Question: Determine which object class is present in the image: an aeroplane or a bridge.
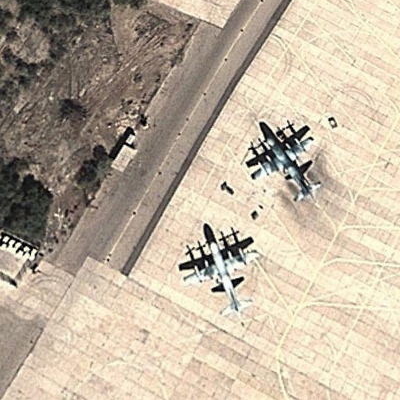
aeroplane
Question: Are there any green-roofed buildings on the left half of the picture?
No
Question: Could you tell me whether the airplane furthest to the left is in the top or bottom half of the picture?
bottom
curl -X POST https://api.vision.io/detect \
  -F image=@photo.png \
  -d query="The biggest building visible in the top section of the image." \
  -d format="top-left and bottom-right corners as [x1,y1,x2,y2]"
[112,144,137,171]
